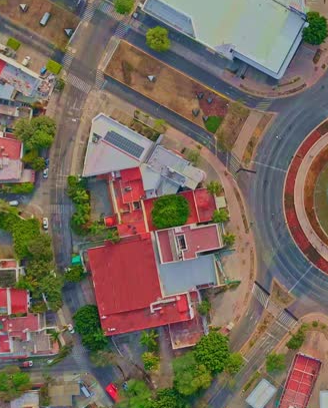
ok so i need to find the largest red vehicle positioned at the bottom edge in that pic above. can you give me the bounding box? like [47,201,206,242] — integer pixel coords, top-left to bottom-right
[103,381,121,399]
